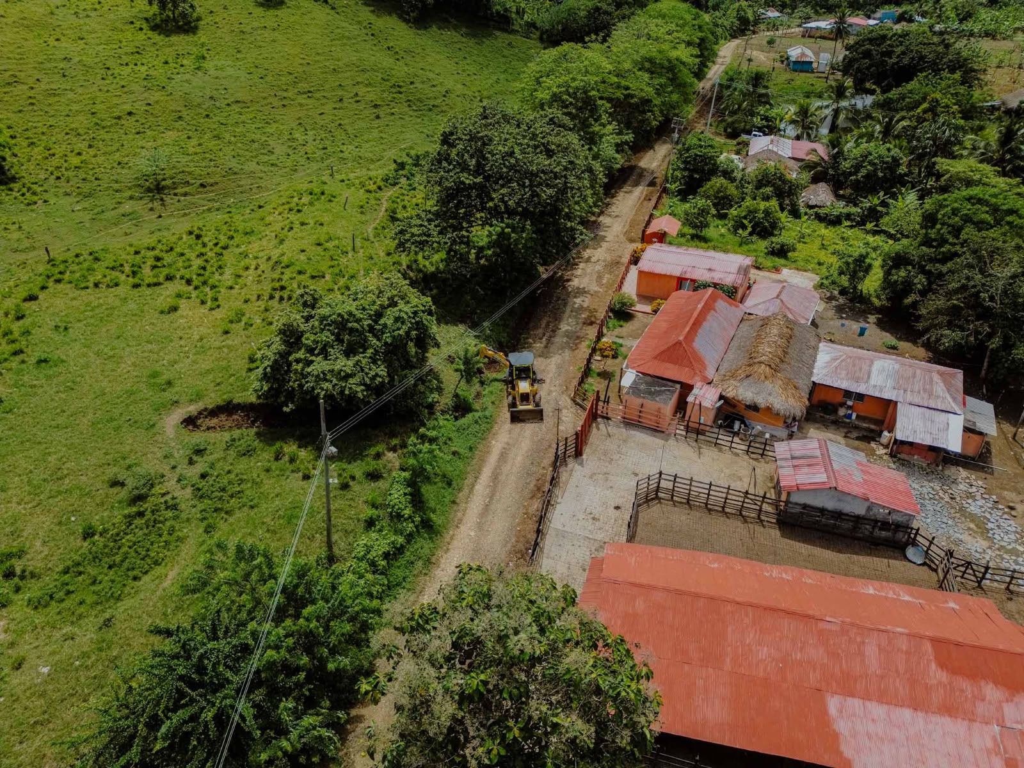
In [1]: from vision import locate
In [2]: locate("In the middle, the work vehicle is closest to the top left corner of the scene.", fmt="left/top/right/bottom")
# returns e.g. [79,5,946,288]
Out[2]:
[475,344,548,419]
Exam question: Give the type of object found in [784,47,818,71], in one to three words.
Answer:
house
